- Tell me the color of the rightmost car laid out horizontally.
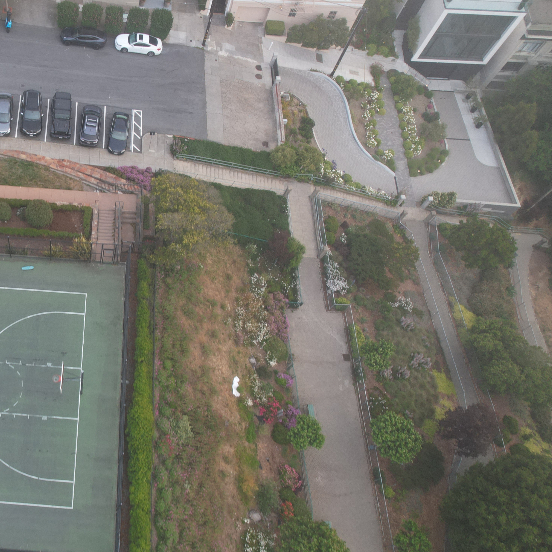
white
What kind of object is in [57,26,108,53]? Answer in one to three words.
car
